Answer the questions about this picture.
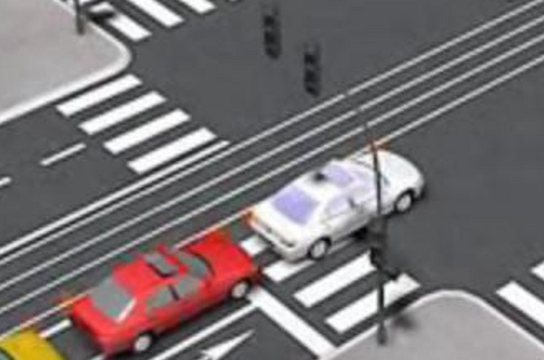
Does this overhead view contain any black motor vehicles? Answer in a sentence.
No, the picture doesn't show any black motor vehicle.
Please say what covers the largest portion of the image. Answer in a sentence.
For the most part, this view shows paved ground.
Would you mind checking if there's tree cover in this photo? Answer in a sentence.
No, the picture contains no tree cover.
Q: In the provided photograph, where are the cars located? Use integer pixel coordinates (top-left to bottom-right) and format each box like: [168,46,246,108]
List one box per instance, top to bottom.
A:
[249,154,424,262]
[69,234,261,357]
[0,329,67,360]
